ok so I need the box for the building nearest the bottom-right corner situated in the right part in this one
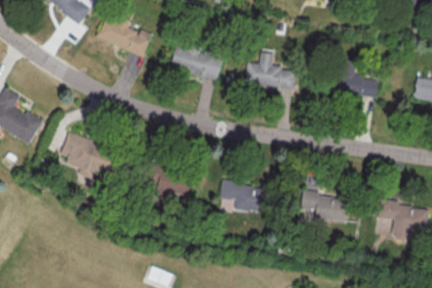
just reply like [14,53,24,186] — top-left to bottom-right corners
[376,200,430,244]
